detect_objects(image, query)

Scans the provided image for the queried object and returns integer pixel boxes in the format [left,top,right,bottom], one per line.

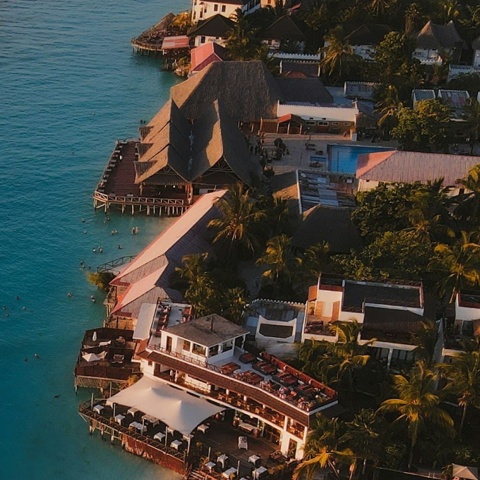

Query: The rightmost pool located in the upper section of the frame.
[327,144,399,175]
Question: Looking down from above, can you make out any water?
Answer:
Yes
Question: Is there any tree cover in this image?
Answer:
Yes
